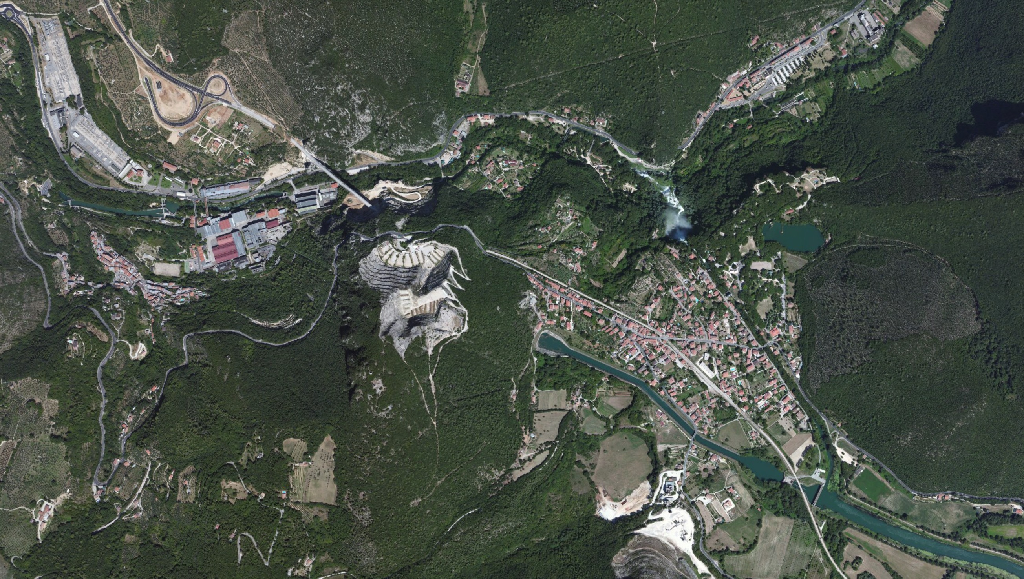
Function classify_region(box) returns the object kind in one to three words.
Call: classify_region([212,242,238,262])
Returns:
building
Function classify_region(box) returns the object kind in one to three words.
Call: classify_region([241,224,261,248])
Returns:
building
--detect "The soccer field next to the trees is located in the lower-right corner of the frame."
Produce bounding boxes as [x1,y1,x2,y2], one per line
[854,468,891,503]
